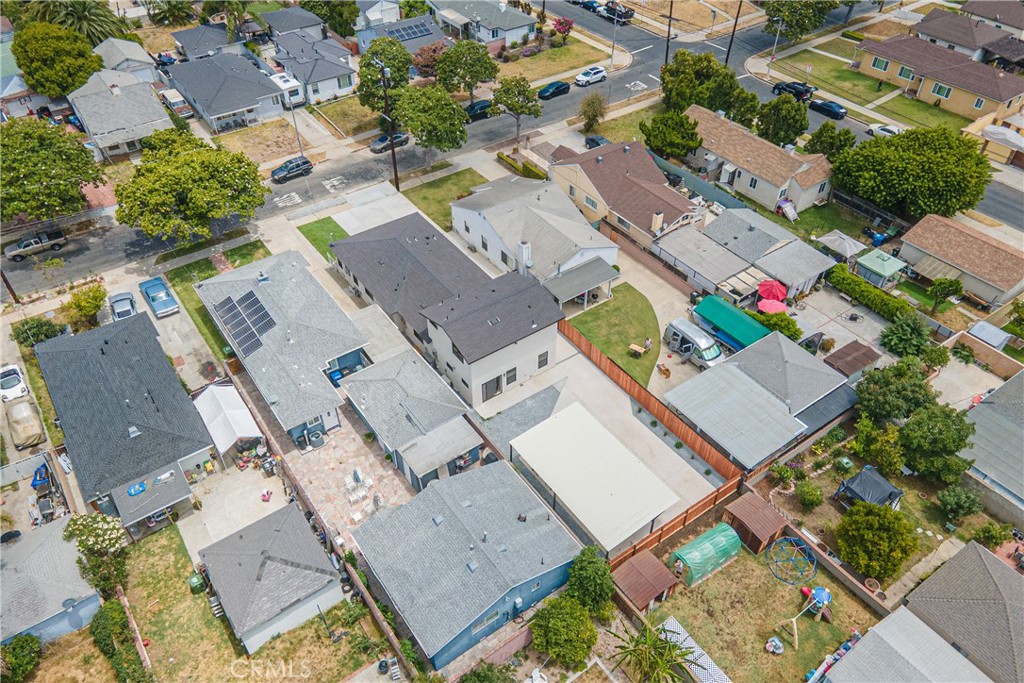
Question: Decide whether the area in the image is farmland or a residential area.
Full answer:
This looks like a residential area.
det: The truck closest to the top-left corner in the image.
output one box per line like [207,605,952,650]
[161,88,191,118]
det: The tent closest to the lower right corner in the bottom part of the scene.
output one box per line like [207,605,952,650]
[832,465,903,516]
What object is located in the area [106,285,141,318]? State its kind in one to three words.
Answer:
car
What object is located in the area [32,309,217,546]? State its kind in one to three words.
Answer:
house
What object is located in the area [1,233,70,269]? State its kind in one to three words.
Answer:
truck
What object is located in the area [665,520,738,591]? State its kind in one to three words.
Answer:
greenhouse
